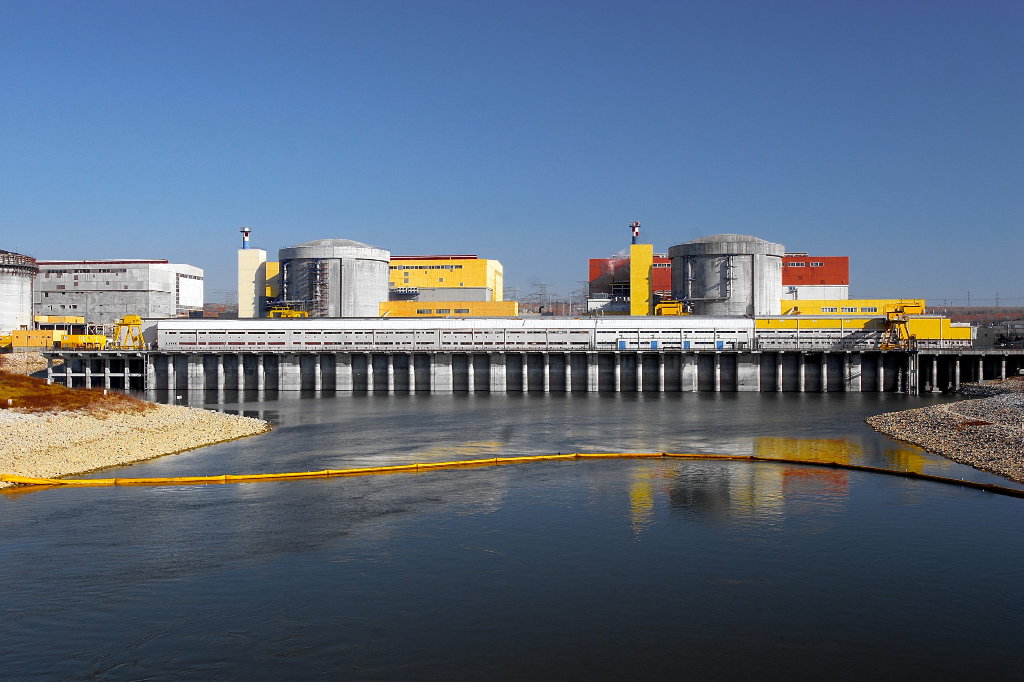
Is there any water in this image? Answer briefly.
Yes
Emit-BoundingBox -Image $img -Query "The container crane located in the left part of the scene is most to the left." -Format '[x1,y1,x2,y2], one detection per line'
[112,316,147,350]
